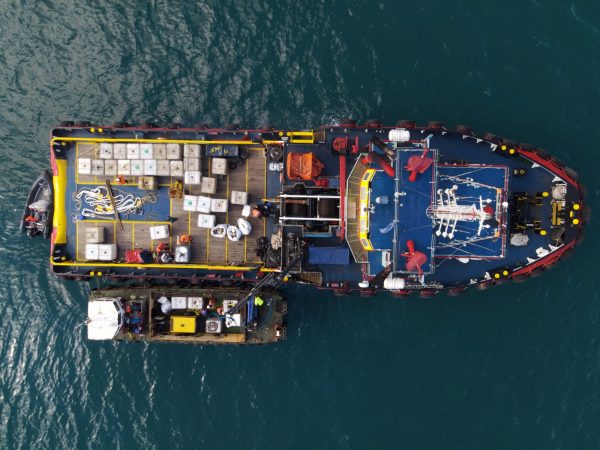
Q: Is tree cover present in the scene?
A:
No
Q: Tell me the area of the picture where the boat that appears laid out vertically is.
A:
left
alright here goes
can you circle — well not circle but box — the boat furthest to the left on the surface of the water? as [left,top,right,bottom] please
[19,169,54,241]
